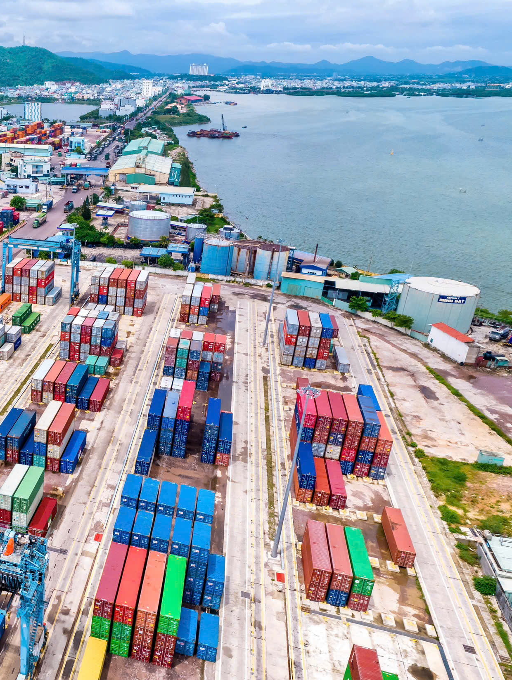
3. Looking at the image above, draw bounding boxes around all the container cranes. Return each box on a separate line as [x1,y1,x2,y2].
[0,232,86,304]
[0,506,62,680]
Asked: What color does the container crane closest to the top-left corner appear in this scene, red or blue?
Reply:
blue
